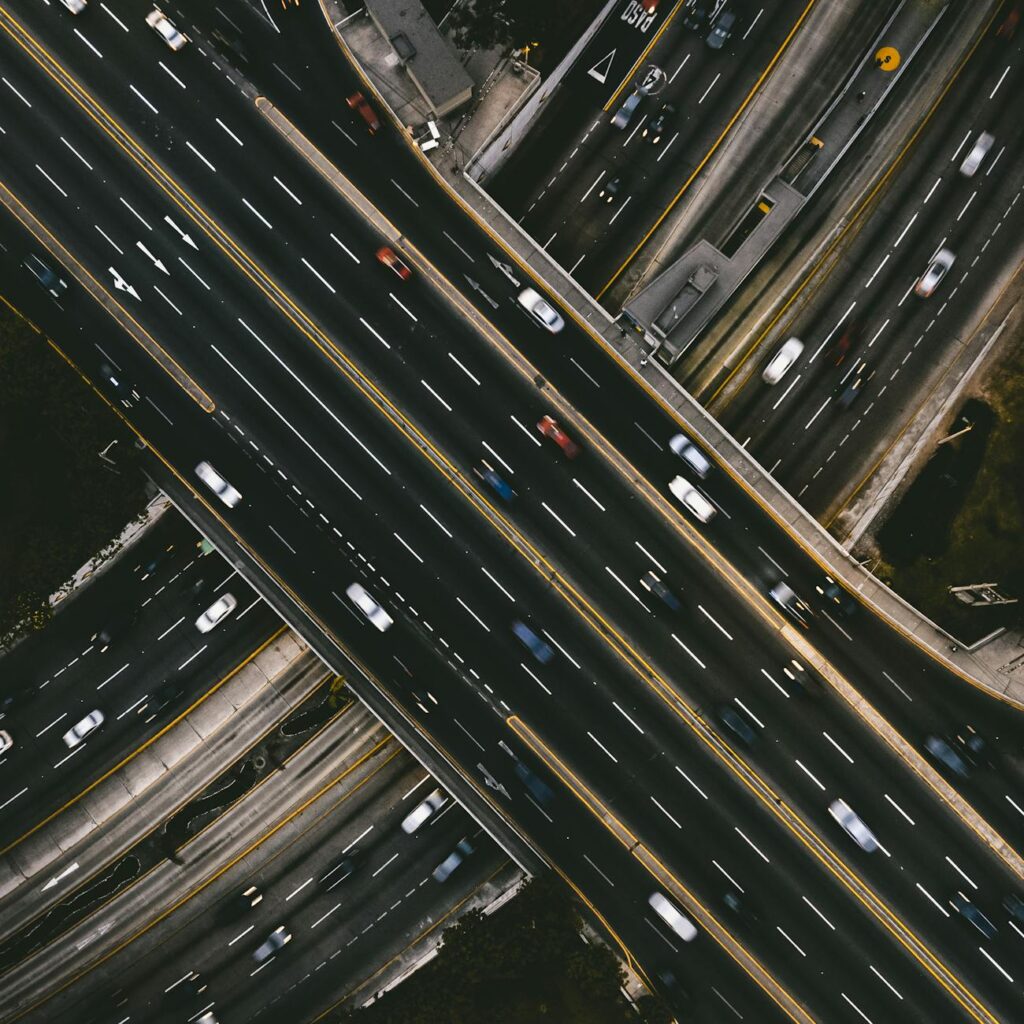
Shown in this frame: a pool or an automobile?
automobile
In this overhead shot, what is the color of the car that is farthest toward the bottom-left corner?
black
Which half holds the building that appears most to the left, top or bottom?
top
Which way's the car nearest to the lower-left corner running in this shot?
on a diagonal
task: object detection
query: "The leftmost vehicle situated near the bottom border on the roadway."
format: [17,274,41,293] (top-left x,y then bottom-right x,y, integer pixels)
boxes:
[90,981,136,1023]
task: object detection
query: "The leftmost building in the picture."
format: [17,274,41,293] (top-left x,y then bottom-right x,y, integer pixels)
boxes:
[361,0,474,116]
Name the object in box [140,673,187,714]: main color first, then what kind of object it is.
black car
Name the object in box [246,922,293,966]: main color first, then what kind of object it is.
gray car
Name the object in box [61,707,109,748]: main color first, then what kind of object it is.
white car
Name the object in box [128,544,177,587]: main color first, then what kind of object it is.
black car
